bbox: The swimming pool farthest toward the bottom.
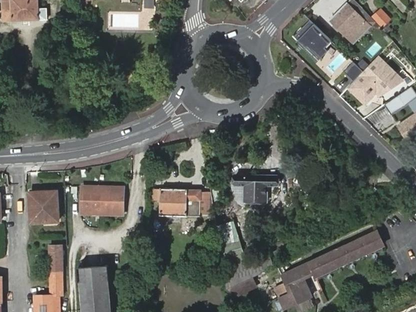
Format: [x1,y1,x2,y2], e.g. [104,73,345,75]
[326,55,345,74]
